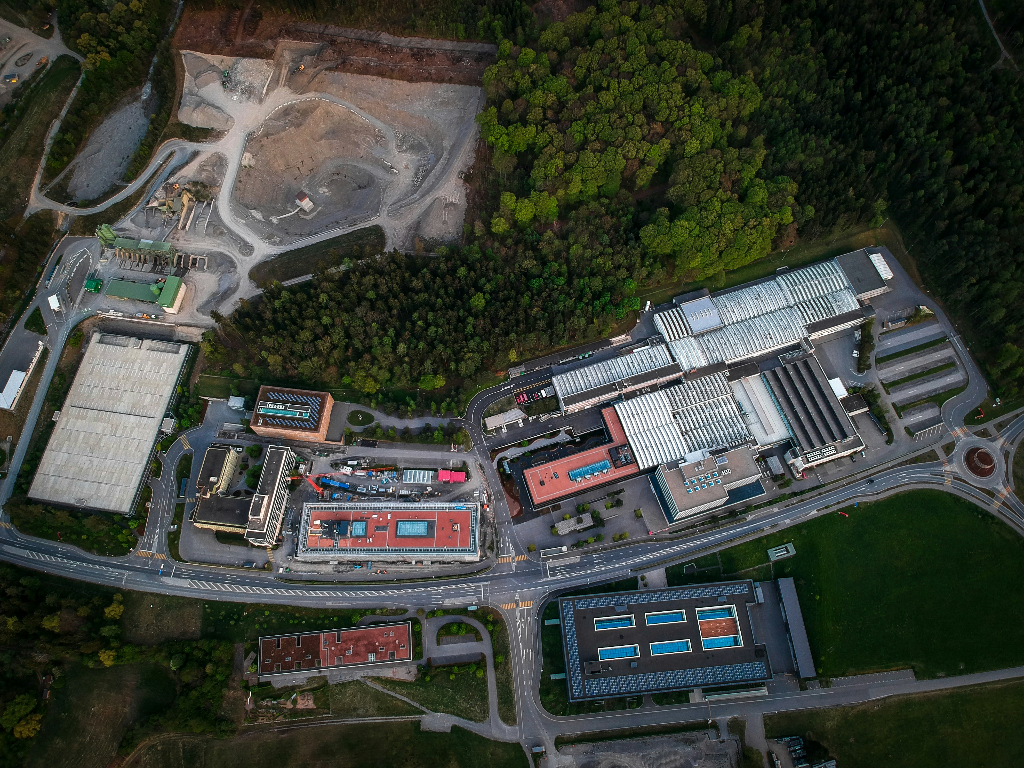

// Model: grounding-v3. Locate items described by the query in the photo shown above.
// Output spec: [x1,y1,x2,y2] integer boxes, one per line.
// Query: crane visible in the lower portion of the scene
[286,466,394,501]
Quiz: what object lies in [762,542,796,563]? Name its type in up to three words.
house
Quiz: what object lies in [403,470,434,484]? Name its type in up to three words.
shed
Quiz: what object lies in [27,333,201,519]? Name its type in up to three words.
warehouse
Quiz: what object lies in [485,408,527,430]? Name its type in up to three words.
building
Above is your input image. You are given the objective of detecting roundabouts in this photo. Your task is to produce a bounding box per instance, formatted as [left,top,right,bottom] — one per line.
[952,436,1007,490]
